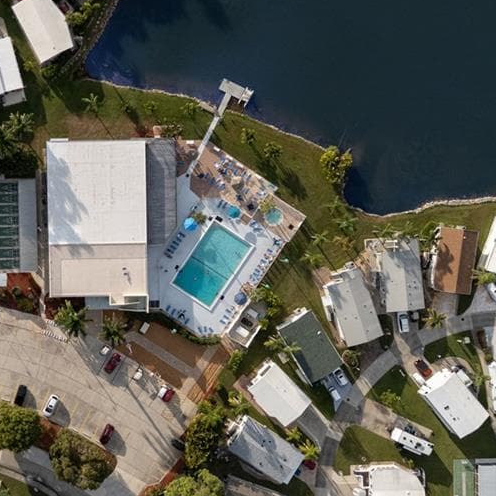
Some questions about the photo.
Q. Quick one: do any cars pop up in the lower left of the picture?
Yes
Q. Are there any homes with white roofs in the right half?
Yes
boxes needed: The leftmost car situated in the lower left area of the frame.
[14,382,28,403]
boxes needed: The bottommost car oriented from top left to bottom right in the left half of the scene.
[167,436,186,453]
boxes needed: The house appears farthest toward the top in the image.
[12,0,74,65]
